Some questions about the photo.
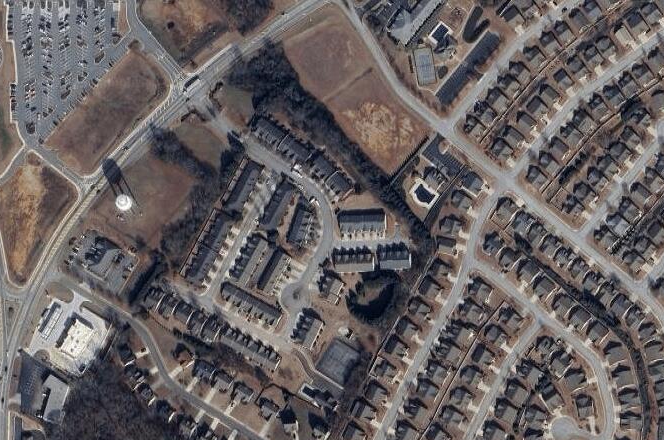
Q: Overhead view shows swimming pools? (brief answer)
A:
Yes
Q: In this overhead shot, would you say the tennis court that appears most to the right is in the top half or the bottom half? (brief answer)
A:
top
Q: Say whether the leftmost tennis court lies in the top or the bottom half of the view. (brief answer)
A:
bottom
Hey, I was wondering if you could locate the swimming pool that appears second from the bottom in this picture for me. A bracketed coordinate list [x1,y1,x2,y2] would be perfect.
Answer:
[408,177,441,210]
